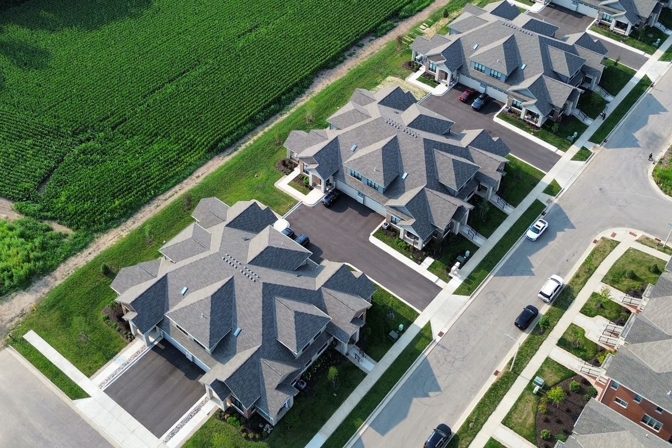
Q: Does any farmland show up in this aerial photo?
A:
Yes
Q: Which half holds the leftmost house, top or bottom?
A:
bottom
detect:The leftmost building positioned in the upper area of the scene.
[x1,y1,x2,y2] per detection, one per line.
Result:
[283,86,508,251]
